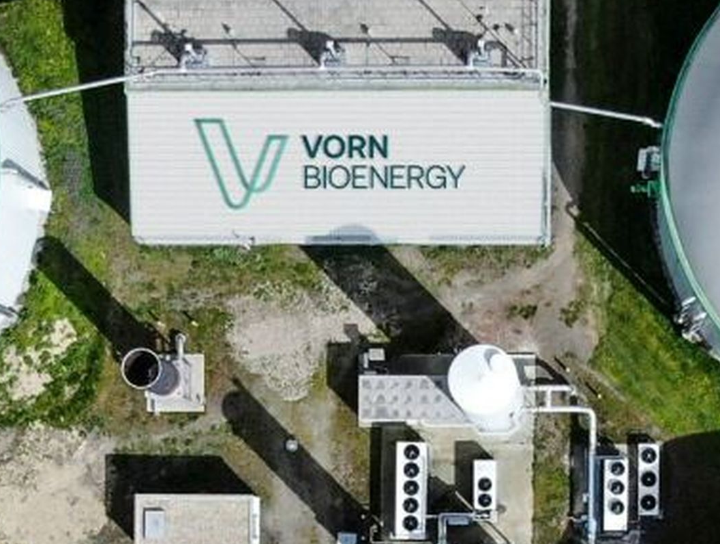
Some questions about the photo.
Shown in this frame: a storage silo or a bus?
storage silo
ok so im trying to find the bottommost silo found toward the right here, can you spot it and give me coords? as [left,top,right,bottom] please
[446,343,531,443]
